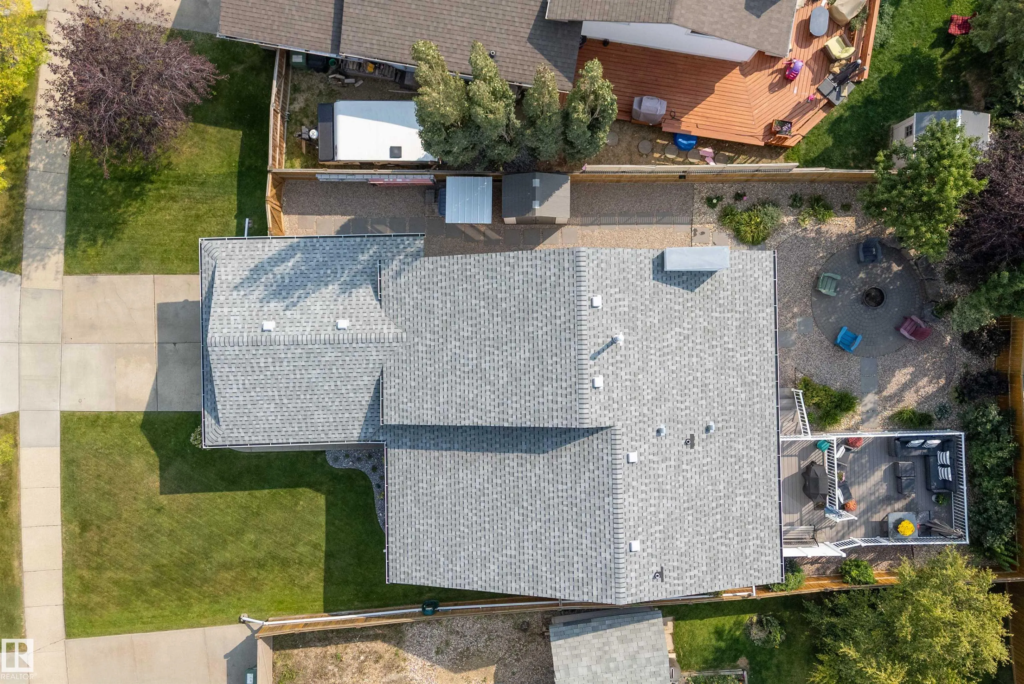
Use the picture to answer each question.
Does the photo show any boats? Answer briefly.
No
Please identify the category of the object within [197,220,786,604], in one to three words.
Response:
house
